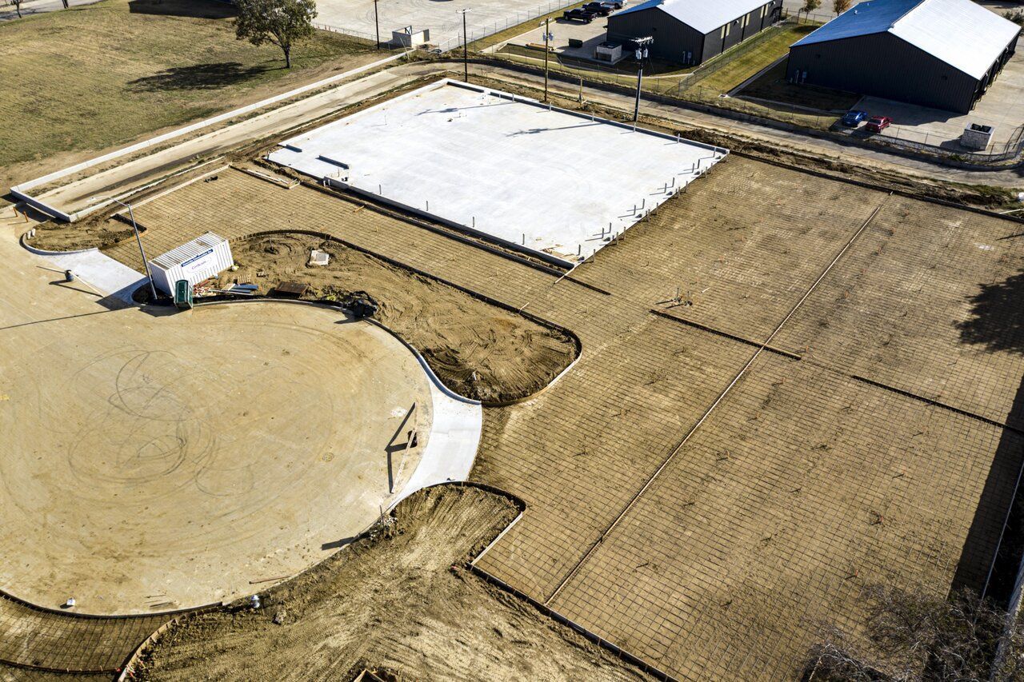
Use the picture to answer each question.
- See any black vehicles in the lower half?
No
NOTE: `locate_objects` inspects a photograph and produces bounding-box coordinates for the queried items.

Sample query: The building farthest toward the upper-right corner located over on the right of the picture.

[784,0,1024,114]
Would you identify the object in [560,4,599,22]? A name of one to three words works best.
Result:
vehicle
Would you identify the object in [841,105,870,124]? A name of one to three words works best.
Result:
car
